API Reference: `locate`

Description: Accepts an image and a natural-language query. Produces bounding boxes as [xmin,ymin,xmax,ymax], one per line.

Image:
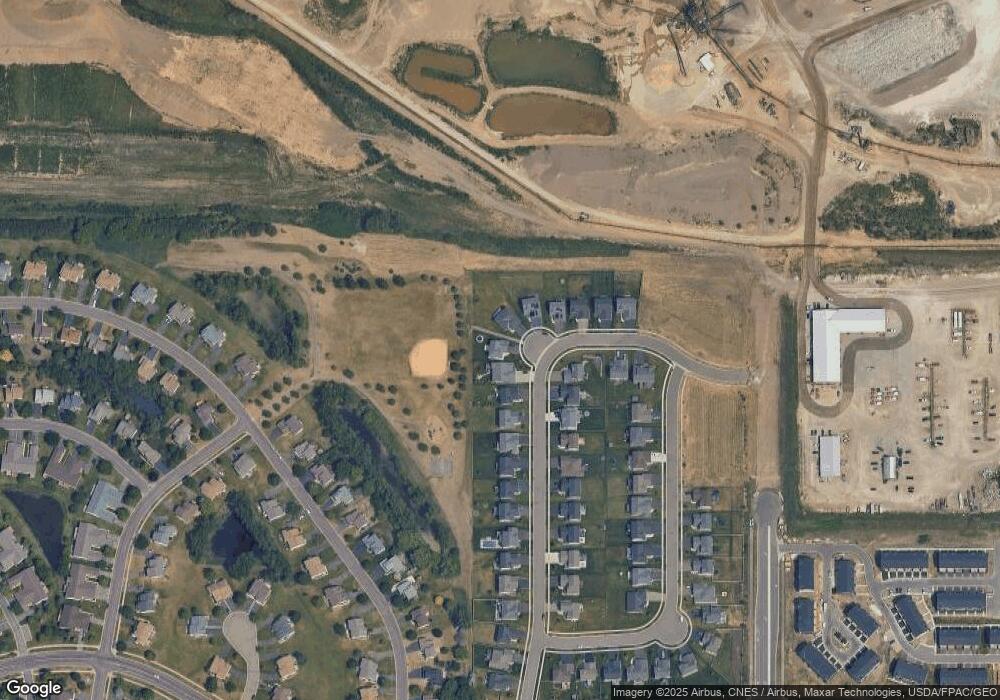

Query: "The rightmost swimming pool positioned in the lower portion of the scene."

[477,535,498,550]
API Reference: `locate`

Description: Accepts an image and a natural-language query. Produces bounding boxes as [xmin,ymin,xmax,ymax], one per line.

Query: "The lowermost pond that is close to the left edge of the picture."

[7,491,62,568]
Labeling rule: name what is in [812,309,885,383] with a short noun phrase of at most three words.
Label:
building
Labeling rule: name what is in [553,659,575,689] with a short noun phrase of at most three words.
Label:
house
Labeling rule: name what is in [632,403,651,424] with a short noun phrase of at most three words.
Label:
house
